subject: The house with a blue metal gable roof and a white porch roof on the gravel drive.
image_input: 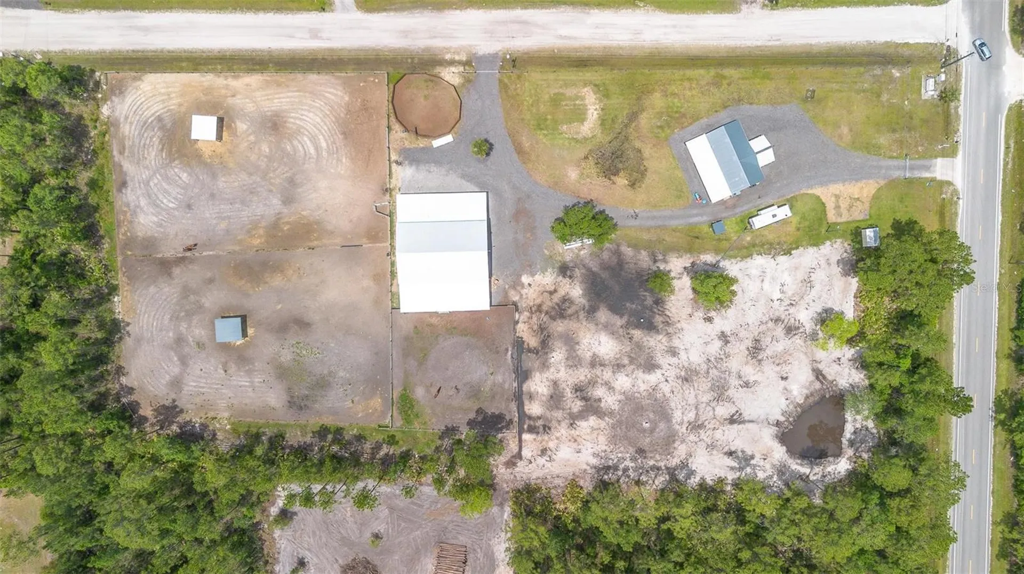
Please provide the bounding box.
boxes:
[683,119,764,203]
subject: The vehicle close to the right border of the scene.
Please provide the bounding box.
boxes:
[971,37,993,62]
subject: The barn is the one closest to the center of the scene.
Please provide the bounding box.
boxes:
[396,192,491,317]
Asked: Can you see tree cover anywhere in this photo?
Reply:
Yes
